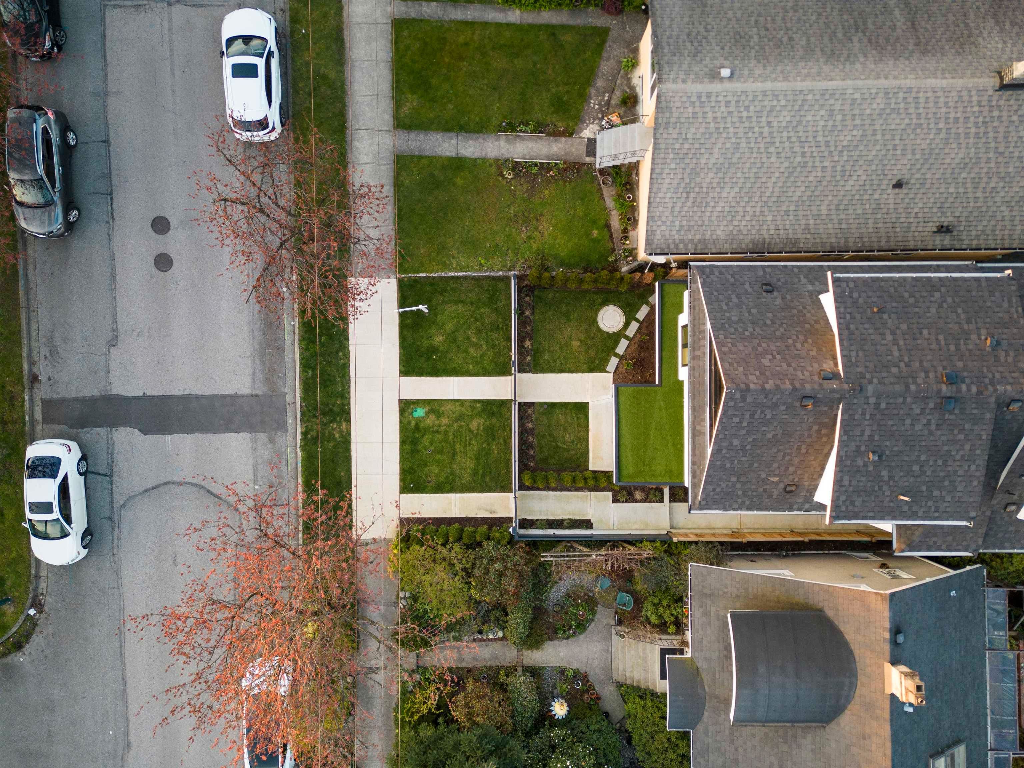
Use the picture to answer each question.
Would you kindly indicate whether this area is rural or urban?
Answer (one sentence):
It looks urban.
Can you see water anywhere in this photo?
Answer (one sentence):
No, no water is visible.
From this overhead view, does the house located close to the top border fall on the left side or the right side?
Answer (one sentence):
The house located close to the top border appears in the right half of the scene.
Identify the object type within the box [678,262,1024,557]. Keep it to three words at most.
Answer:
house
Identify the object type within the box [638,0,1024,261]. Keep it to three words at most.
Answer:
house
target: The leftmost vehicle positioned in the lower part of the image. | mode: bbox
[17,439,97,569]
